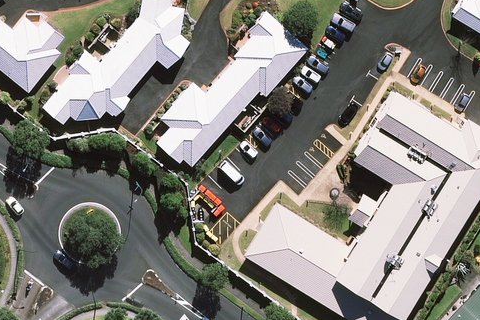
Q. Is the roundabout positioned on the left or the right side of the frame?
left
